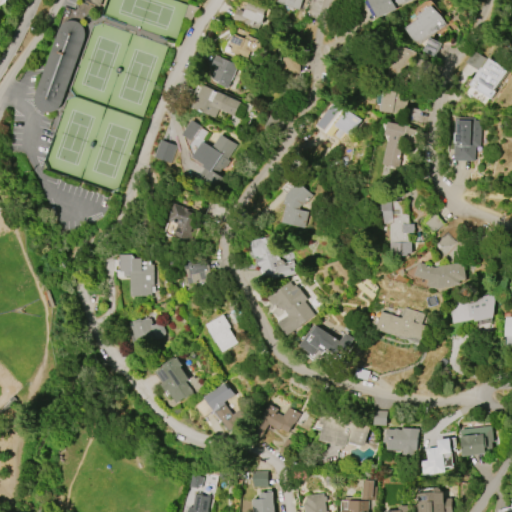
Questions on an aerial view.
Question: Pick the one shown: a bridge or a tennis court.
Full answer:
Visible in the photo is a tennis court.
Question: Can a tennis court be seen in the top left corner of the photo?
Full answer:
Yes, there is a tennis court in the top left corner of the photo.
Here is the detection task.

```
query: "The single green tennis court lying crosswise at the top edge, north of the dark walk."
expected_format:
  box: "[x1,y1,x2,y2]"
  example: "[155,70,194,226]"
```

[106,0,188,39]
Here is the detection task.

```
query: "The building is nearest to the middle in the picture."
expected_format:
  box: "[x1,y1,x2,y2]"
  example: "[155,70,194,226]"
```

[252,238,296,277]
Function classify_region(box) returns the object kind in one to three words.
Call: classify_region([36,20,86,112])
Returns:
building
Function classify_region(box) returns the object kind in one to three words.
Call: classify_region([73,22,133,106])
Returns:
tennis court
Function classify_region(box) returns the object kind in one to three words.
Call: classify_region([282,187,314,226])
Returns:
house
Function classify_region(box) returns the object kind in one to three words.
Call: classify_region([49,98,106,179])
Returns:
tennis court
